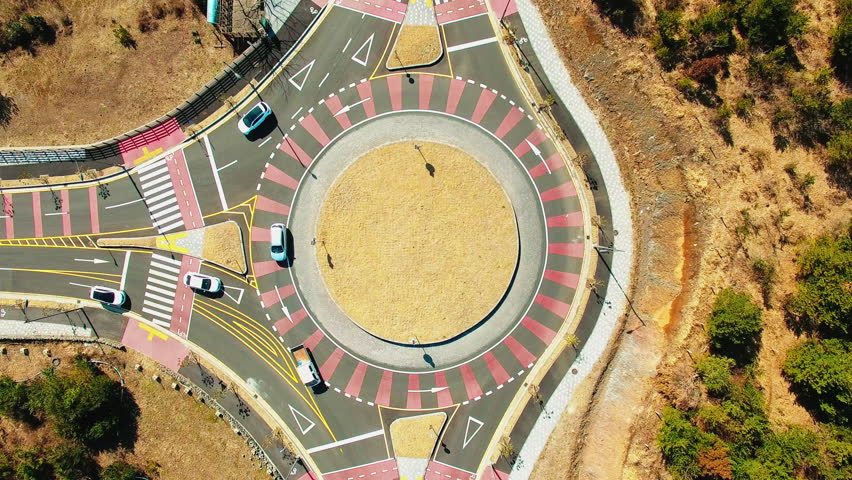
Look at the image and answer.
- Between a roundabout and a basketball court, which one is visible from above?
roundabout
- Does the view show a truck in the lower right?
No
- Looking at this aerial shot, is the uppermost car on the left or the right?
left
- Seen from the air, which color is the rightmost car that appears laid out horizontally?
white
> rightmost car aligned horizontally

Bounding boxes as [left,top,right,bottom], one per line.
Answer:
[181,271,223,294]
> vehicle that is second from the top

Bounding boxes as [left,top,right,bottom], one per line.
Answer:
[269,223,288,261]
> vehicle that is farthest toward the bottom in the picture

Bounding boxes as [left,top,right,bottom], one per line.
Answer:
[290,344,320,388]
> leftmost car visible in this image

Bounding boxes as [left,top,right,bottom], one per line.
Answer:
[87,285,126,306]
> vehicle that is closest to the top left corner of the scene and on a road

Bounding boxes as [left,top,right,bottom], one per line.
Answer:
[238,101,273,135]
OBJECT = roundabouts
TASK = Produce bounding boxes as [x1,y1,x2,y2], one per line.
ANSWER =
[250,74,584,408]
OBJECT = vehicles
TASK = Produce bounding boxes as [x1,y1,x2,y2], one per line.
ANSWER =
[87,285,126,306]
[181,271,223,294]
[269,223,288,261]
[238,101,273,135]
[290,344,320,388]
